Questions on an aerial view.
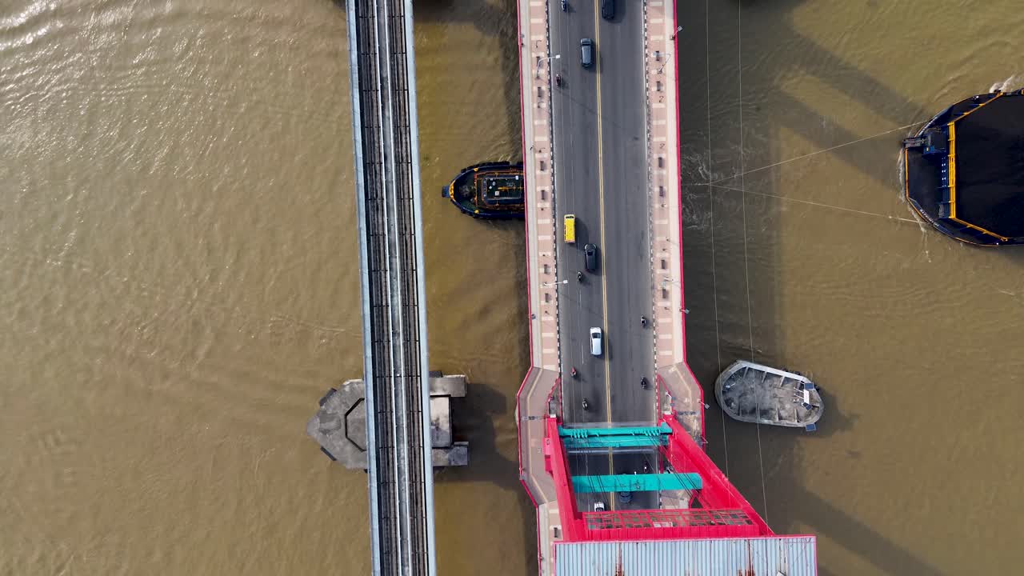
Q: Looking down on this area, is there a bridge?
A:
Yes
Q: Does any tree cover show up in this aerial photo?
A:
No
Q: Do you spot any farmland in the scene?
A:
No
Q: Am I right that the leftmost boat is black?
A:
Yes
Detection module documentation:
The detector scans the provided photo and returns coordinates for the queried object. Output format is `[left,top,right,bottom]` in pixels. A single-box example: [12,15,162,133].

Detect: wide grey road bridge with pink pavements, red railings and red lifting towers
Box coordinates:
[515,0,817,576]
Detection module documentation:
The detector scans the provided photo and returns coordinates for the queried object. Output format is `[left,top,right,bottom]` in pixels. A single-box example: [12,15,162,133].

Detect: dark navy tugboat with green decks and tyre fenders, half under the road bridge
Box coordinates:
[442,159,526,221]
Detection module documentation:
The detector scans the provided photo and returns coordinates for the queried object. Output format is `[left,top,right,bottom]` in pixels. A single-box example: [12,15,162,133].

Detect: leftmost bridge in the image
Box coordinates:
[305,0,470,576]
